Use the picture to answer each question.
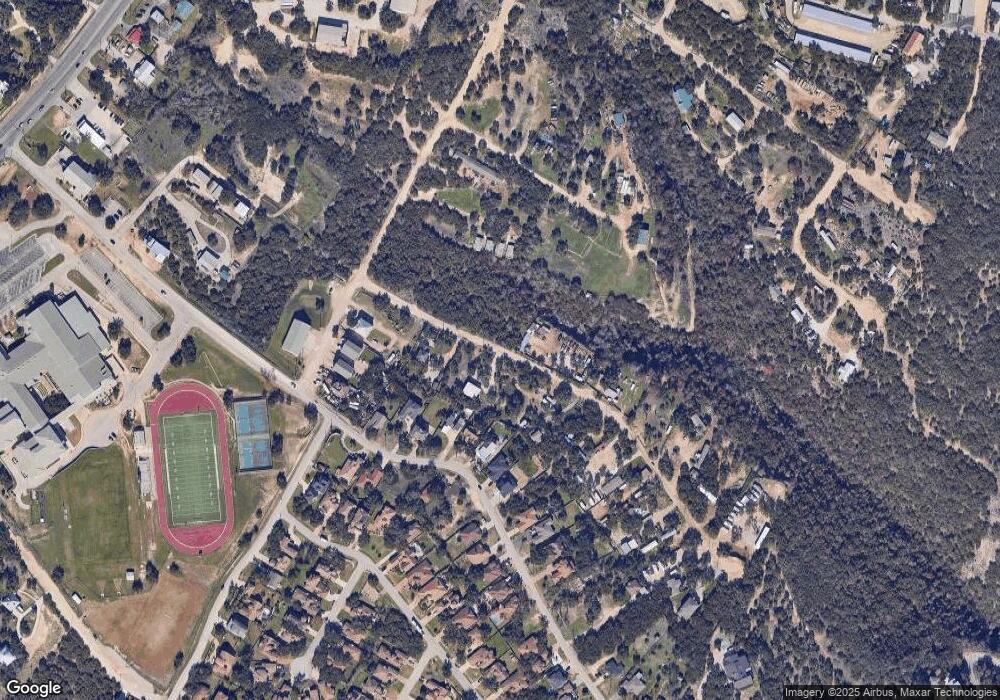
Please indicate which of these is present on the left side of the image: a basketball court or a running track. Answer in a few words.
running track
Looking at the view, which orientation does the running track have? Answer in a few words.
from top to bottom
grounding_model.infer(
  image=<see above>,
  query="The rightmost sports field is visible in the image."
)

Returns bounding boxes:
[158,411,227,527]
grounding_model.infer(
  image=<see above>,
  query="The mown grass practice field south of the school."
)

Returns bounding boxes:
[70,452,130,596]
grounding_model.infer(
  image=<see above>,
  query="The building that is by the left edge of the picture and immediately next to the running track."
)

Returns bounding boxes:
[0,296,112,478]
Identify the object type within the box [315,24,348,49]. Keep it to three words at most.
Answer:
building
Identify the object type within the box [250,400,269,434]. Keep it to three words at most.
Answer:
tennis court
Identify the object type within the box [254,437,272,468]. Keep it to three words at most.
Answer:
tennis court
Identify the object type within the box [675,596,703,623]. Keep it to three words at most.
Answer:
house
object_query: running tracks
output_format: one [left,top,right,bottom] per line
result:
[149,379,236,557]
